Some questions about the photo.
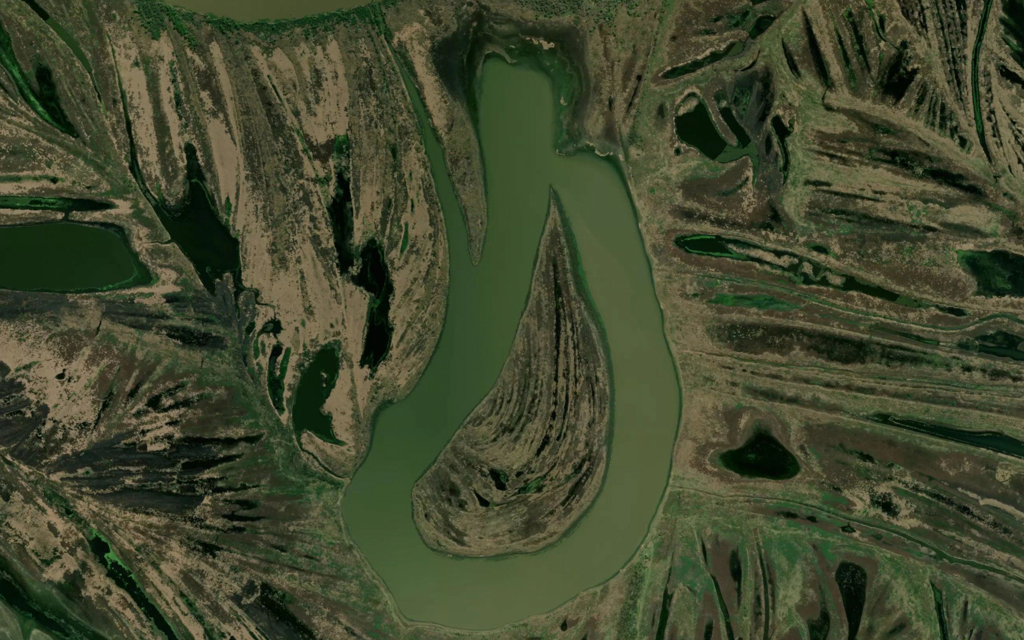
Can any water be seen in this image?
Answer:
Yes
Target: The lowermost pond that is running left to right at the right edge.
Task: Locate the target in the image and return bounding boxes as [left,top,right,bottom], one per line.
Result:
[867,414,1024,459]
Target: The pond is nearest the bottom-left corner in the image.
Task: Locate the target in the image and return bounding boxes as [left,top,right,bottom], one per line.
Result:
[90,536,179,640]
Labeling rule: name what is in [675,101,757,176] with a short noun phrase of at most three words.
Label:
pond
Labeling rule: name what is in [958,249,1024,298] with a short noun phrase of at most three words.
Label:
pond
